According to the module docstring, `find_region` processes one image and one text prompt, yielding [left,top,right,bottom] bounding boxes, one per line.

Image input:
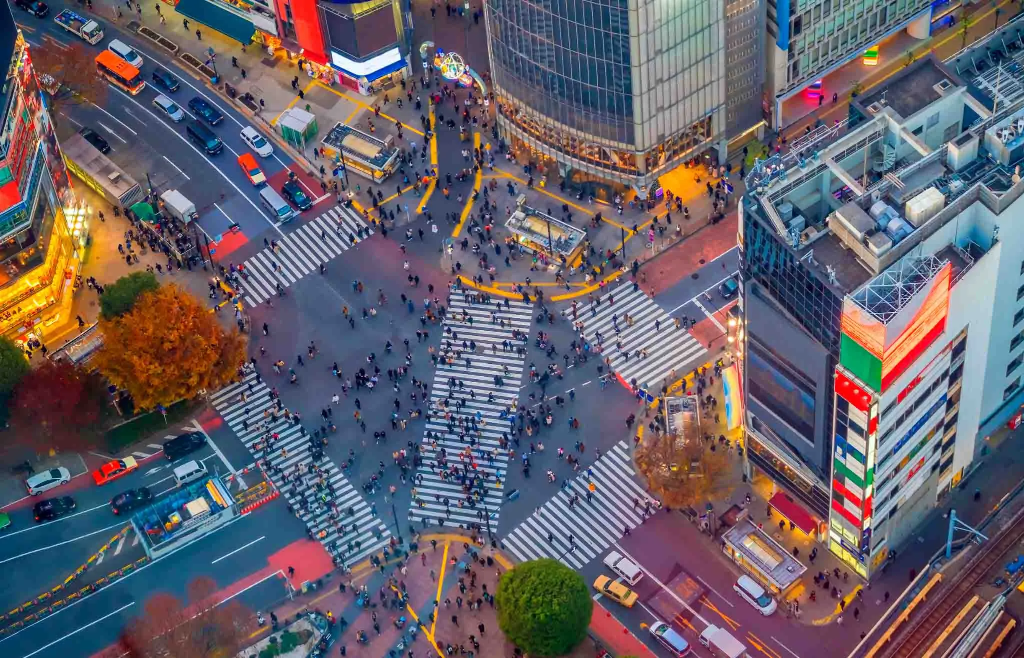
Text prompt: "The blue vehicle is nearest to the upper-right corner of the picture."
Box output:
[710,273,742,304]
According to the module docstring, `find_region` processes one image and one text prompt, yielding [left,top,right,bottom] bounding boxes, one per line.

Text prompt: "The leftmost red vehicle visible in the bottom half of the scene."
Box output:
[92,456,138,486]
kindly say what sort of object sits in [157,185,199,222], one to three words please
truck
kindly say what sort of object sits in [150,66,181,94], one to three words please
car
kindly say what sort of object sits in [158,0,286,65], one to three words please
building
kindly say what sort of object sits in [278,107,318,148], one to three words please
shed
